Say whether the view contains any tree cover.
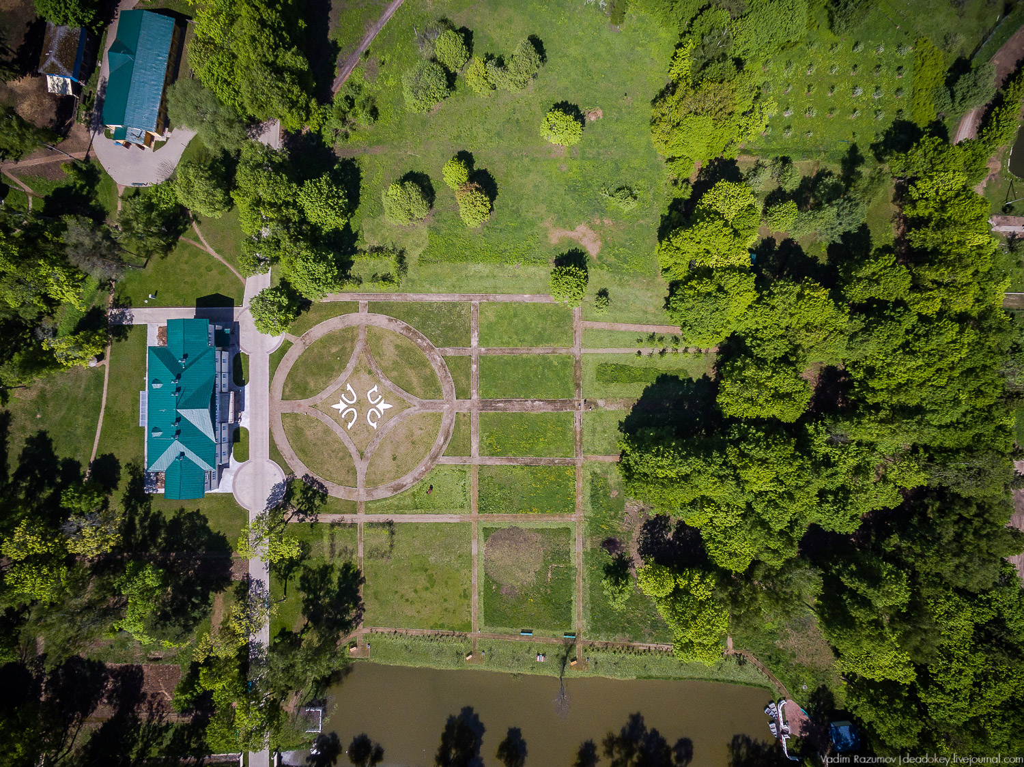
Yes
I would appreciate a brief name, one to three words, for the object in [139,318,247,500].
house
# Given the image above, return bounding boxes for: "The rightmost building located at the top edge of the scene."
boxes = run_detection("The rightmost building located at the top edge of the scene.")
[104,8,187,152]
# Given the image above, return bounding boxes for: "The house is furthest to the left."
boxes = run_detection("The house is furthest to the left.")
[37,15,100,101]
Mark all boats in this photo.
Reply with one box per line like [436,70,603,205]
[768,722,776,737]
[768,702,777,717]
[763,707,776,718]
